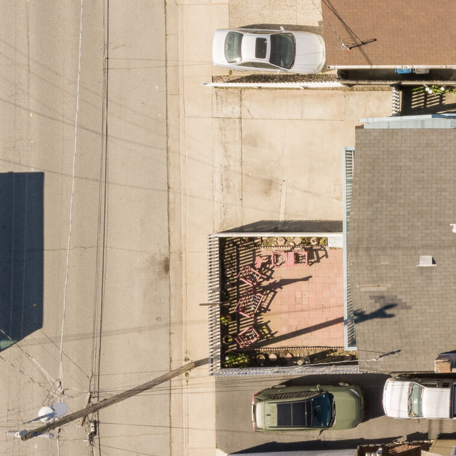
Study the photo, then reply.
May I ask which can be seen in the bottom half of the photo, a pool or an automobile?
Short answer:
automobile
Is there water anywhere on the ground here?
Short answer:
No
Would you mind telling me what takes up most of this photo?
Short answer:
paved ground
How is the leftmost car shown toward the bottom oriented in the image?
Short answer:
from side to side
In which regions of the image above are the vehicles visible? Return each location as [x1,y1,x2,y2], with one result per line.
[210,24,325,76]
[252,381,364,437]
[383,375,456,426]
